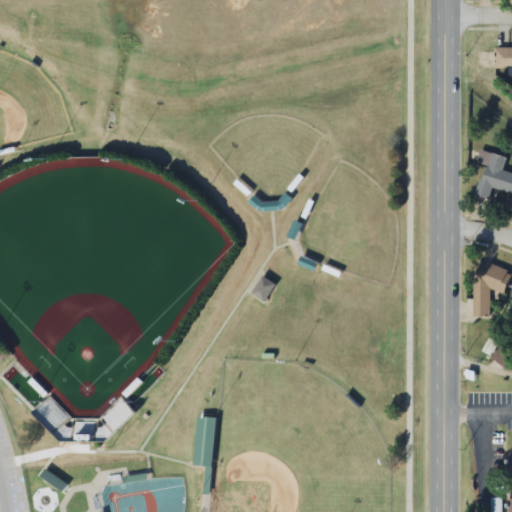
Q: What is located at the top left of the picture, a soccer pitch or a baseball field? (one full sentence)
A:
Looking at the top left of the picture, you will find a baseball field.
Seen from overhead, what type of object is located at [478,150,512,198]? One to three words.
house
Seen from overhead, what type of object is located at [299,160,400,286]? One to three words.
baseball field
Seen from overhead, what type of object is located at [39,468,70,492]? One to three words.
building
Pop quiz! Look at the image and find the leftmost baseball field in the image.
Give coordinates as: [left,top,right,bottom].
[0,49,74,150]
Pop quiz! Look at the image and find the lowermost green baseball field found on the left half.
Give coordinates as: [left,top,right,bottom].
[0,158,234,417]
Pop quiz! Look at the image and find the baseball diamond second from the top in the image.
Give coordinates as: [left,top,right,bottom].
[210,113,325,201]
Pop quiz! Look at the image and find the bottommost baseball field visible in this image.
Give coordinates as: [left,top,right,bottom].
[216,358,392,512]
